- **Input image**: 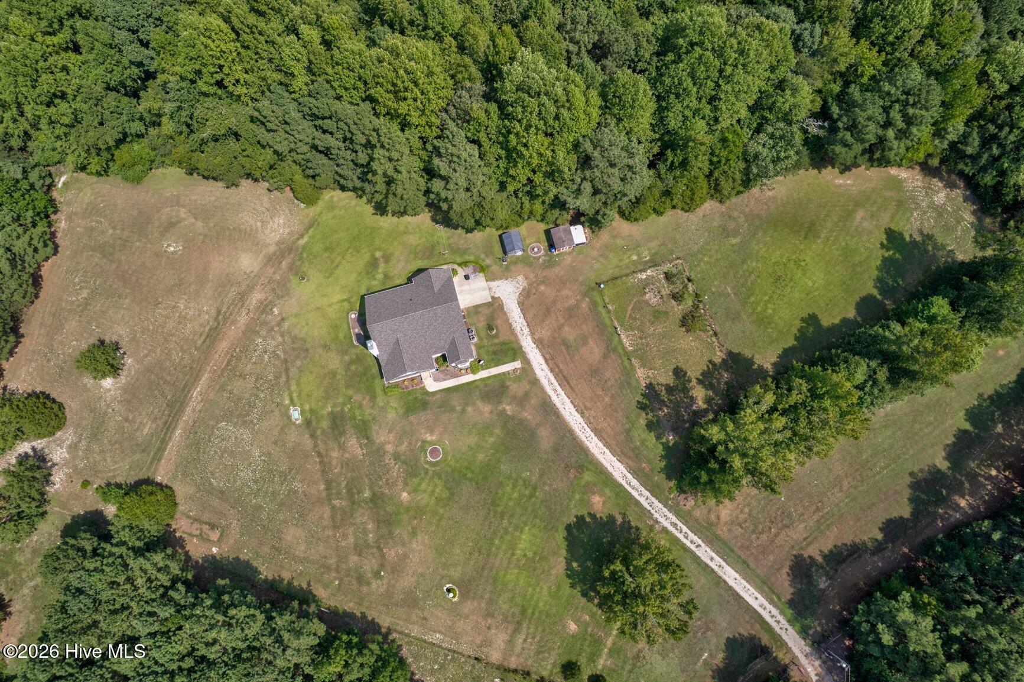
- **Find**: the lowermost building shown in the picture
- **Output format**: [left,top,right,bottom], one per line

[364,267,475,383]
